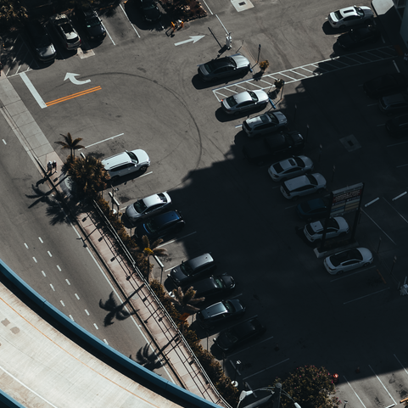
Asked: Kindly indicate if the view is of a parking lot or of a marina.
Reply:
parking lot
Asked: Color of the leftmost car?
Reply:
black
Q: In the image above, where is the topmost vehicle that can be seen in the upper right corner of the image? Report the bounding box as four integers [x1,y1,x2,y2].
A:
[325,3,376,32]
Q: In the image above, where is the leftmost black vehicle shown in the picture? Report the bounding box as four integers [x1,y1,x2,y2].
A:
[21,23,58,65]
